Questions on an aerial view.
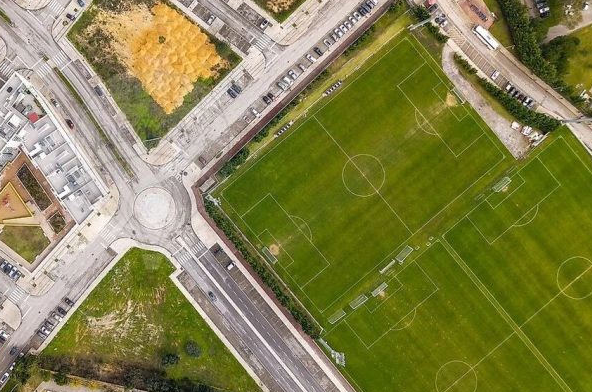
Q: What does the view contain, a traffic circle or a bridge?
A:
traffic circle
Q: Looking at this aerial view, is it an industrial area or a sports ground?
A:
sports ground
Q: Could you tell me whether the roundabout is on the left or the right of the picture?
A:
left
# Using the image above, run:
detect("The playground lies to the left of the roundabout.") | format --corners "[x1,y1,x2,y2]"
[0,183,32,221]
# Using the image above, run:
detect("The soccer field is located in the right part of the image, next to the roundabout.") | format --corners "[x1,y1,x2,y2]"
[212,27,515,323]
